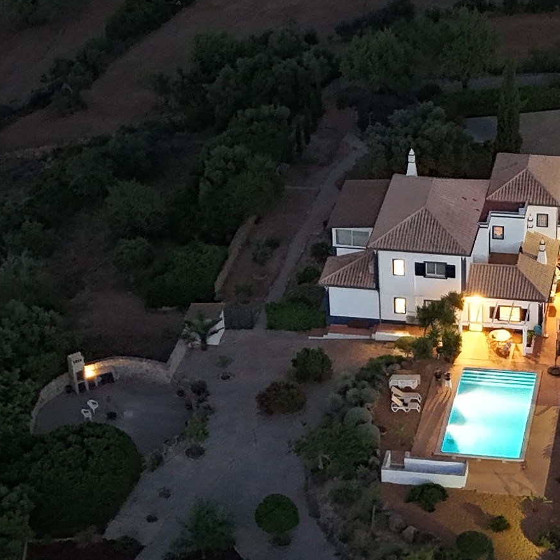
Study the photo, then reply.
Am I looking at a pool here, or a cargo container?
pool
